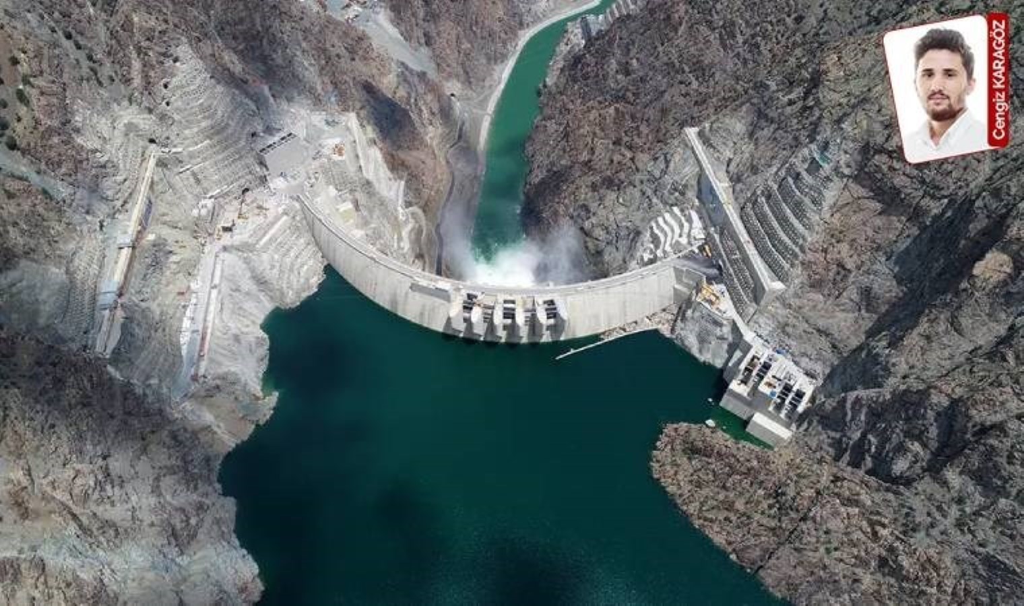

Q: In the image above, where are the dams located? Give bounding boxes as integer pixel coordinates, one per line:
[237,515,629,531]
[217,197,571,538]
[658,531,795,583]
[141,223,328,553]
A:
[295,197,707,343]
